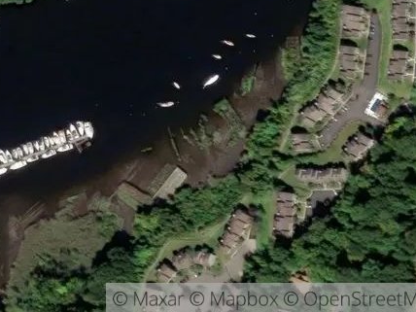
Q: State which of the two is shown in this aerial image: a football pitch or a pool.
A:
pool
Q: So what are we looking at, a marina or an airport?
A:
marina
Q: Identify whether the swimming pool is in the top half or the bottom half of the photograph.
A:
top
